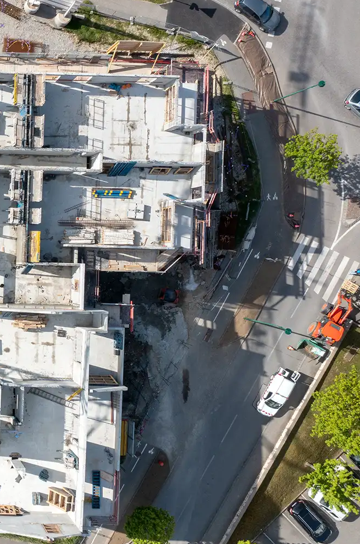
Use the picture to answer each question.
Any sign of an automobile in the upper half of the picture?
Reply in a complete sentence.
Yes, in the upper half of the picture there is an automobile.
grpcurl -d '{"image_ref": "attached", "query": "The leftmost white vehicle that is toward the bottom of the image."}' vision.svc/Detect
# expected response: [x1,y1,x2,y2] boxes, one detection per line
[256,366,306,418]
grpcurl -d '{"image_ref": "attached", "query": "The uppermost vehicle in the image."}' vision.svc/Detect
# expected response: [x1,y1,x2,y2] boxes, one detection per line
[237,0,284,32]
